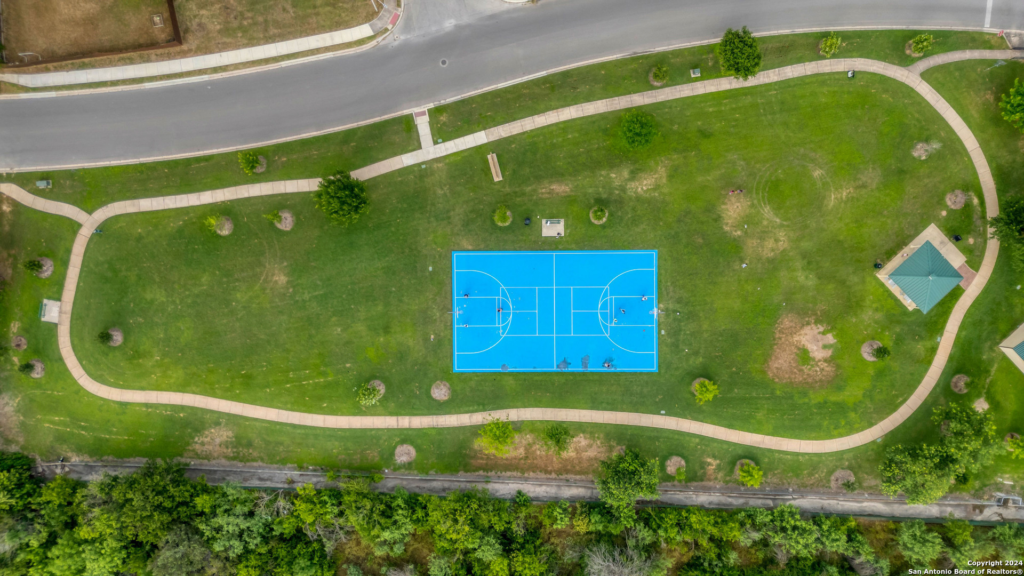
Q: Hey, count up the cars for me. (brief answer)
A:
0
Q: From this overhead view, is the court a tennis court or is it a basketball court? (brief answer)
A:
basketball court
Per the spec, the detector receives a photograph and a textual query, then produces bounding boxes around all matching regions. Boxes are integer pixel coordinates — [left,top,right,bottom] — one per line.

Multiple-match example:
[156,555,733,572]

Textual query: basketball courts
[453,250,658,373]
